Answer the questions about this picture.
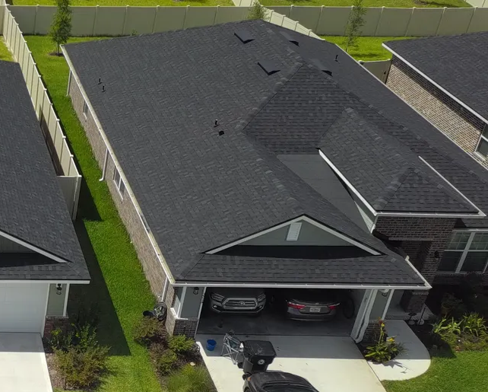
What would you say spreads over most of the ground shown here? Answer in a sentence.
The largest share of the image is taken up by buildings.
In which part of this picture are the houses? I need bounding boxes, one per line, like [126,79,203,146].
[0,59,94,335]
[59,19,488,344]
